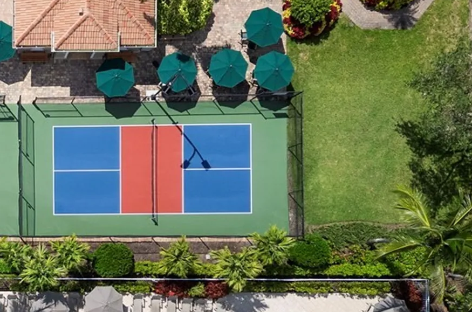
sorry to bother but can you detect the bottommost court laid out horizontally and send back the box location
[19,101,289,235]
